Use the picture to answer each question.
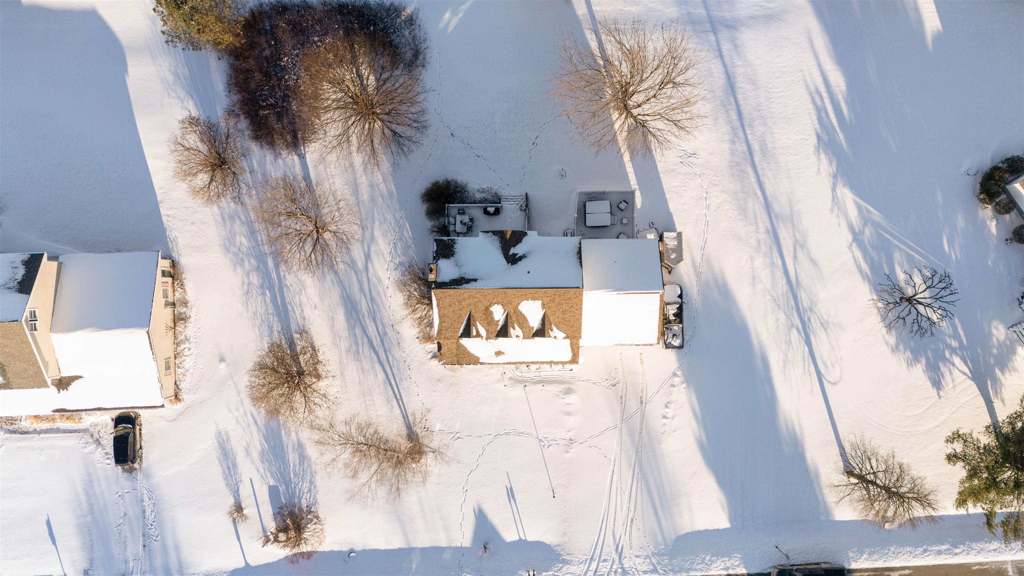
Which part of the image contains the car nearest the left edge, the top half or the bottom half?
bottom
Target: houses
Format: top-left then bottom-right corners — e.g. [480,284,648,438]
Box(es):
[428,230,665,366]
[999,175,1024,233]
[0,250,178,411]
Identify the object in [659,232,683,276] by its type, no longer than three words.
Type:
trailer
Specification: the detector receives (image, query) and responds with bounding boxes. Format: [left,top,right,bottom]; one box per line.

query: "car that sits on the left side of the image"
[108,409,140,467]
